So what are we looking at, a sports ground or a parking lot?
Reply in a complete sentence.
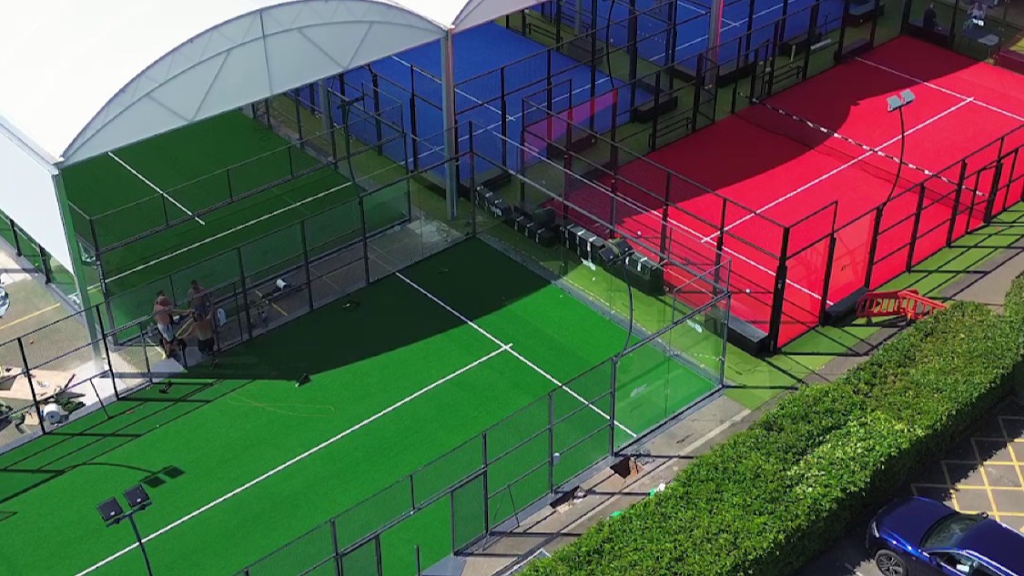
The picture captures a sports ground.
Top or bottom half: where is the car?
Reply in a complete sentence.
The car is in the bottom half of the image.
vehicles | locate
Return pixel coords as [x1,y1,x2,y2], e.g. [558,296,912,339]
[868,495,1024,576]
